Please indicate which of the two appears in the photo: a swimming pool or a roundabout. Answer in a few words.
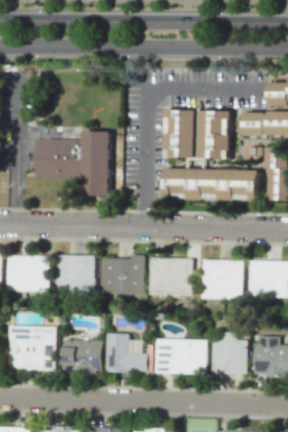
swimming pool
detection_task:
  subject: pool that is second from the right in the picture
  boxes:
[113,314,147,334]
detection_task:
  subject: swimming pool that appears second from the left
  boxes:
[70,314,102,338]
